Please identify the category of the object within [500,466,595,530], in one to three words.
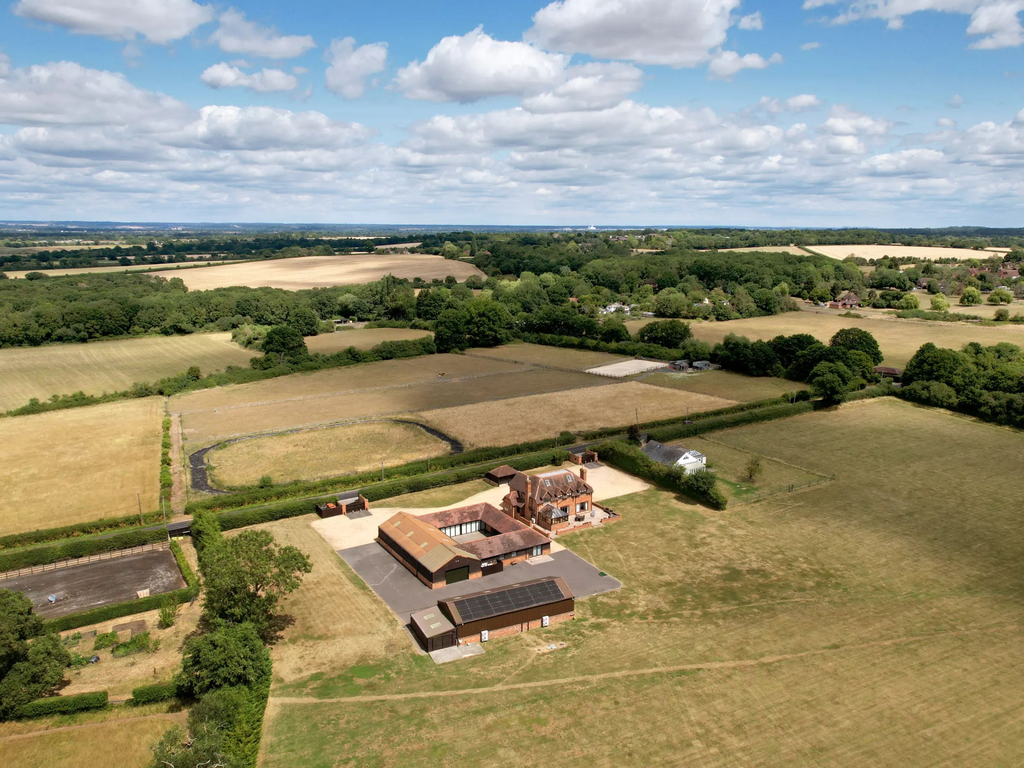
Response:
house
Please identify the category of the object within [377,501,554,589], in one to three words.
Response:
barn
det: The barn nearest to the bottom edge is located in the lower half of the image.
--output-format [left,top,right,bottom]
[407,573,579,652]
